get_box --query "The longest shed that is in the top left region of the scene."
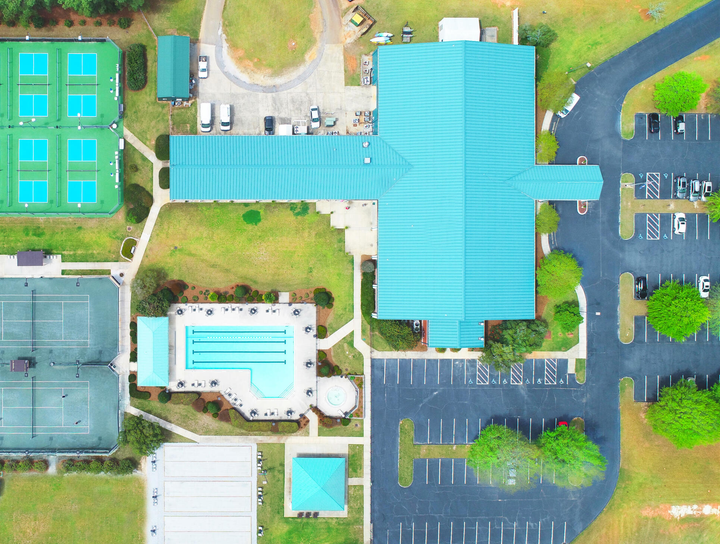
[158,34,190,100]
